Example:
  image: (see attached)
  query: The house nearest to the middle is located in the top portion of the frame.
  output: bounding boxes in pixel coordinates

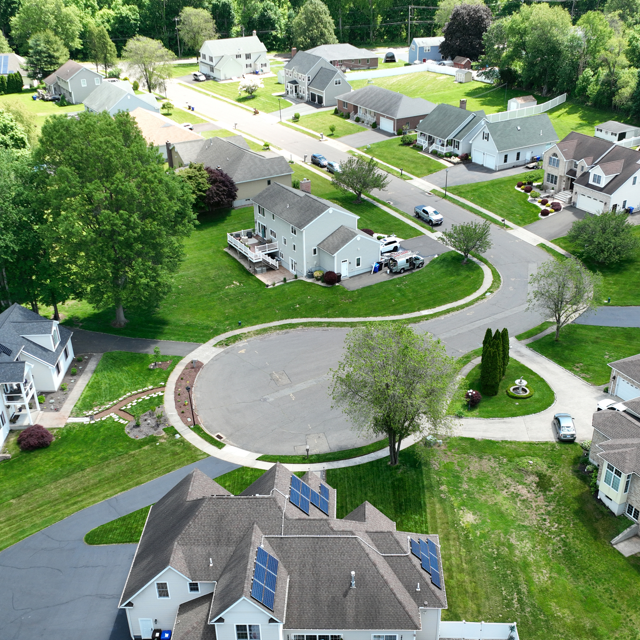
[226,177,379,280]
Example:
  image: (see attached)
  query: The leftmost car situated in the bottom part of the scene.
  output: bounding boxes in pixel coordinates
[552,411,578,441]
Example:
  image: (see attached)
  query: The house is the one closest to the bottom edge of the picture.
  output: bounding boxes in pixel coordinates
[118,462,448,640]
